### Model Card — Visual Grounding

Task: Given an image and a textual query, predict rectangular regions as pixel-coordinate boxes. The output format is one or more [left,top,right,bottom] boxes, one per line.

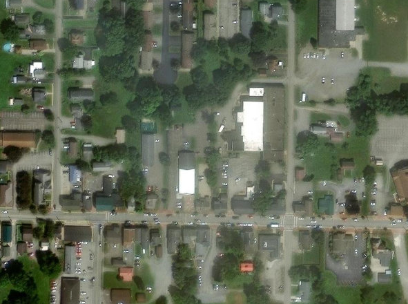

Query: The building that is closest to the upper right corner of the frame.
[317,0,355,49]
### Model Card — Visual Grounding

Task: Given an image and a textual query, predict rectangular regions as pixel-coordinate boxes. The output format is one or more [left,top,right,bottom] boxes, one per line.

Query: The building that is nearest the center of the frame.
[178,150,194,194]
